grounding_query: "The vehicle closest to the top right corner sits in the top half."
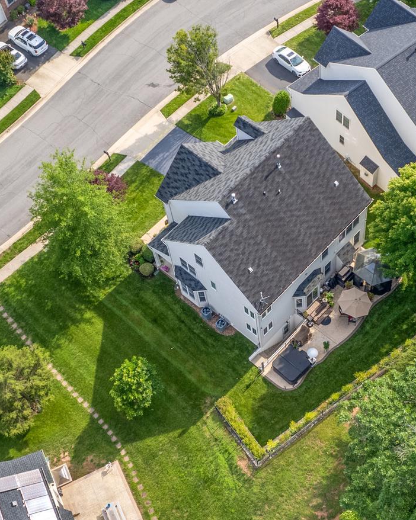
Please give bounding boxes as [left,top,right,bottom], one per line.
[271,46,311,78]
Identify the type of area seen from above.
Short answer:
residential area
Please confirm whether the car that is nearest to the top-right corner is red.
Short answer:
No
